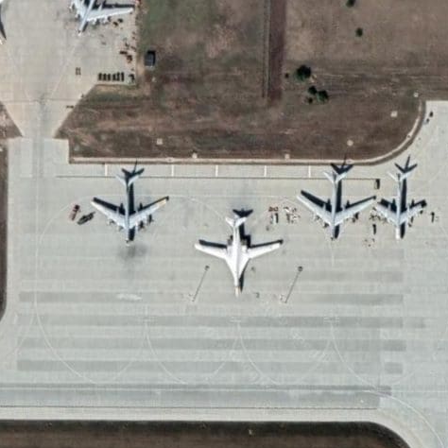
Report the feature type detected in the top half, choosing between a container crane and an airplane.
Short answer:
airplane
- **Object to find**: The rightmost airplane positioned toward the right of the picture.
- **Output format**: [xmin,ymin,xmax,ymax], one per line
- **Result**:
[376,165,420,238]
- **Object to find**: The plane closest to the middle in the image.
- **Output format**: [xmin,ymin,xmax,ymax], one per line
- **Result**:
[196,213,278,295]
